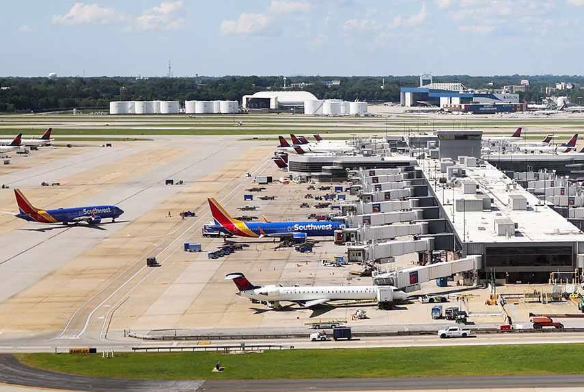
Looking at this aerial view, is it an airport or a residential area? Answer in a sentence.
The area seen from above is an airport.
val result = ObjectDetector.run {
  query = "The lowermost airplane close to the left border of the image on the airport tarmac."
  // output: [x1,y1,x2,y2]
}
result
[14,186,123,225]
